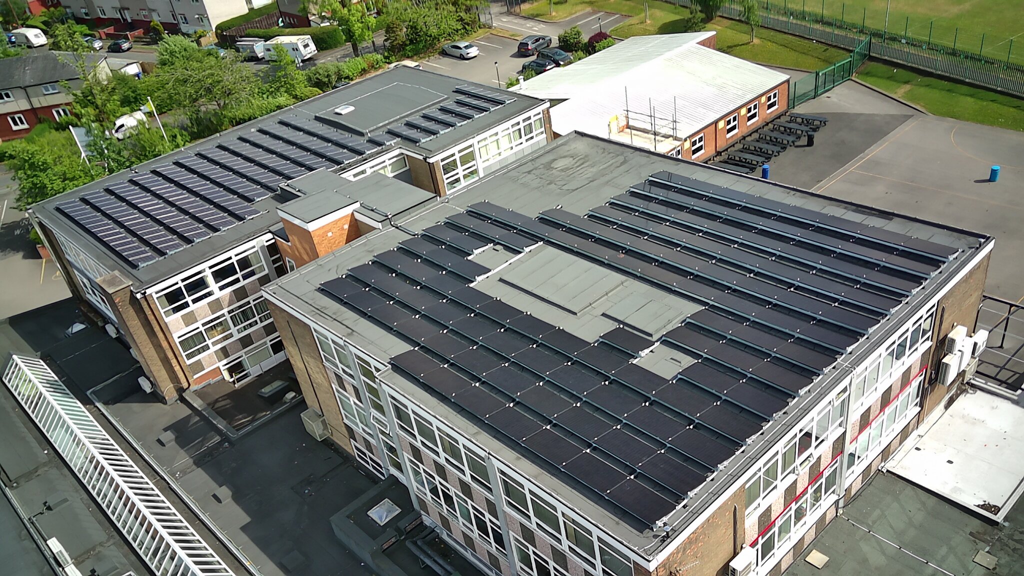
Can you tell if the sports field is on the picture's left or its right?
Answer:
right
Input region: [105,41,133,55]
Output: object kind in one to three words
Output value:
car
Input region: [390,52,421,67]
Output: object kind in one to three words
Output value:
car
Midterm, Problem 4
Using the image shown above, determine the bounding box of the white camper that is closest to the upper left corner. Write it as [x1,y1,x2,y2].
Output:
[7,25,42,47]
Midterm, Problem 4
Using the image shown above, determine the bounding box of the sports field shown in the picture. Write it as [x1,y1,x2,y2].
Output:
[729,0,1024,70]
